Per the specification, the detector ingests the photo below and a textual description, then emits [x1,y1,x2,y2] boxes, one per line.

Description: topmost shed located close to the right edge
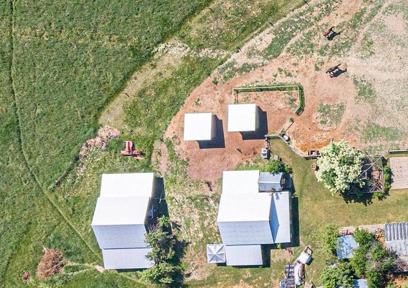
[385,222,408,241]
